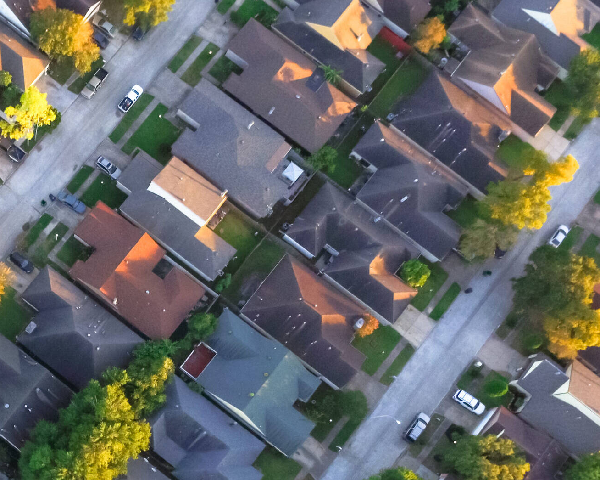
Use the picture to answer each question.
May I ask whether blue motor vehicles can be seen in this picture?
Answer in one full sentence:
Yes, a blue motor vehicle appears in the view.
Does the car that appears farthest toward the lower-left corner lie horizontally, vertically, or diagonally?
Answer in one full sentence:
What the image shows is the car that appears farthest toward the lower-left corner lying diagonally.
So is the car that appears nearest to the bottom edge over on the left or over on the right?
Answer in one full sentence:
It is on the right.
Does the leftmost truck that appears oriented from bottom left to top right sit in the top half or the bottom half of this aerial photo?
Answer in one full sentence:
The leftmost truck that appears oriented from bottom left to top right sits in the top half of the picture.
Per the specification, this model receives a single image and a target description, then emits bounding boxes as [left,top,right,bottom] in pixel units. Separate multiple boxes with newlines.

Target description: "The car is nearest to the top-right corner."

[545,219,572,242]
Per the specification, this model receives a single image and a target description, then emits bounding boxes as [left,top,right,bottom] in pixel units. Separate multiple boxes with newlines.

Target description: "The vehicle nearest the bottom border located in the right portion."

[398,409,433,446]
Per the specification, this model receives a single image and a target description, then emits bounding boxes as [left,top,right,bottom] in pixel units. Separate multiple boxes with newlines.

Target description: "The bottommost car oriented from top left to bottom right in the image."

[450,386,486,417]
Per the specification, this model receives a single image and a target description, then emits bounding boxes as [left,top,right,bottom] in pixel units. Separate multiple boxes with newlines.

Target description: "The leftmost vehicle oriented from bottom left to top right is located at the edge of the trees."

[76,61,114,104]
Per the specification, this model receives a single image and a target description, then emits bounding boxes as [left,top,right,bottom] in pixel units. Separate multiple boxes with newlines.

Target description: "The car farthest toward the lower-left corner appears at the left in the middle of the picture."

[2,246,38,278]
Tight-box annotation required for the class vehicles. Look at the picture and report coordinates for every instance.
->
[93,9,125,39]
[545,219,572,242]
[53,187,88,218]
[92,28,119,55]
[110,78,148,121]
[89,150,123,183]
[76,61,114,104]
[0,131,30,168]
[450,386,486,417]
[2,246,38,278]
[398,409,433,446]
